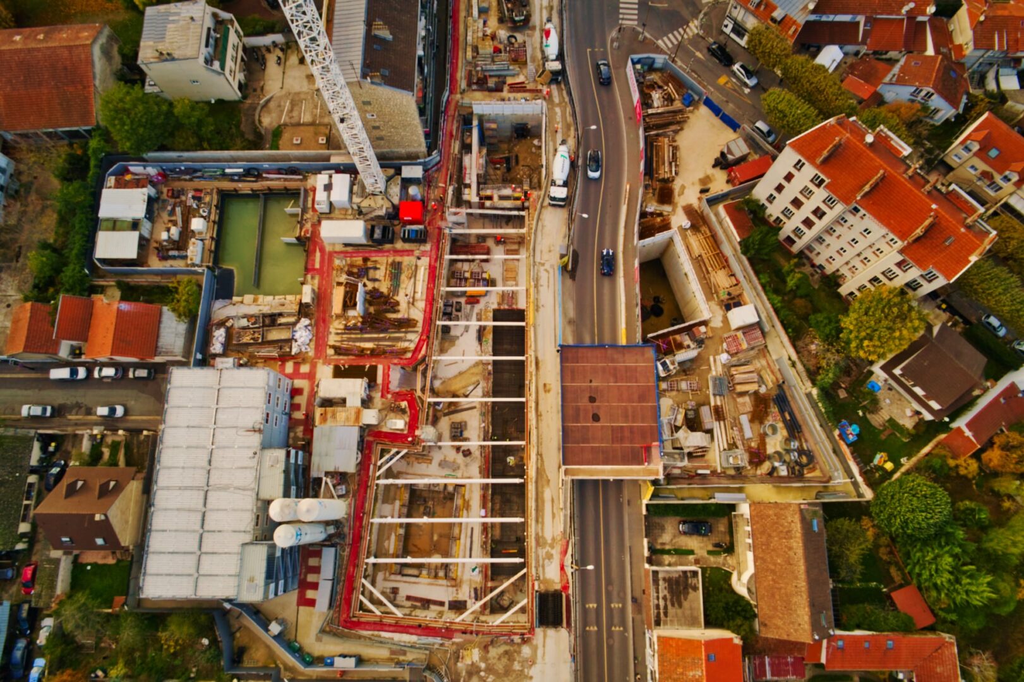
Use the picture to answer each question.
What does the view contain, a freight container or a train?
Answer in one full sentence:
I can see a freight container in this picture.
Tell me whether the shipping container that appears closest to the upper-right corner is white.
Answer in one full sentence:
No, the color of the shipping container that appears closest to the upper-right corner is red.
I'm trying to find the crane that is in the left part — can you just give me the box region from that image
[278,0,393,207]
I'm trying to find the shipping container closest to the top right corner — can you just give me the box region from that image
[728,155,771,187]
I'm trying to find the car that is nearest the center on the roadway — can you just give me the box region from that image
[602,250,615,272]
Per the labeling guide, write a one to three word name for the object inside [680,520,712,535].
car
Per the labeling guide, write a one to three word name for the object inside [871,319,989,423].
house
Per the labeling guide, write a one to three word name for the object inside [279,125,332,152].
shed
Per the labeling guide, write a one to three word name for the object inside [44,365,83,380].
vehicle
